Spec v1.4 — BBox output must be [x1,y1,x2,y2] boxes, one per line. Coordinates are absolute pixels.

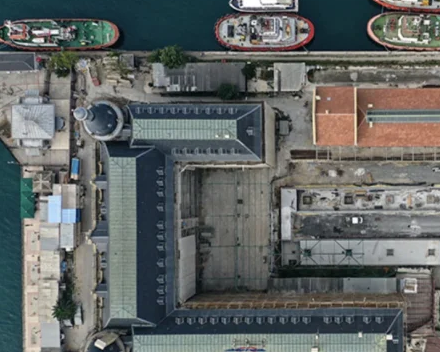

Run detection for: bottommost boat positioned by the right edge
[367,12,440,51]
